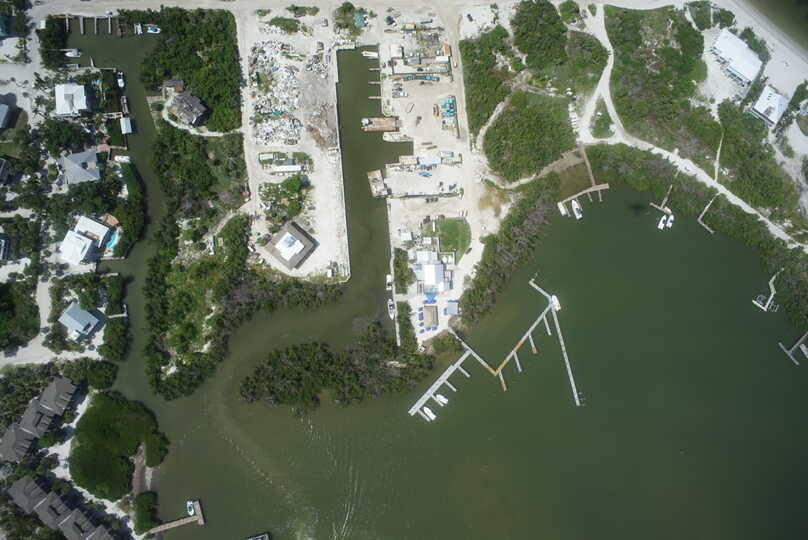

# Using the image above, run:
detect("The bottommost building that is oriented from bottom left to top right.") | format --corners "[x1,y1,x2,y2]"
[0,376,84,462]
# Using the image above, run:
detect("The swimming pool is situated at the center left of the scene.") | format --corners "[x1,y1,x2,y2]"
[105,228,119,250]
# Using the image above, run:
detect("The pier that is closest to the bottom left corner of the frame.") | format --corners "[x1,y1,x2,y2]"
[149,499,205,534]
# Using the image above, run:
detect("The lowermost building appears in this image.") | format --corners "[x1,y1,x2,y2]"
[9,471,129,540]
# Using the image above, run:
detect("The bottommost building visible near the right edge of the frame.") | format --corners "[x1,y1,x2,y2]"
[746,85,788,129]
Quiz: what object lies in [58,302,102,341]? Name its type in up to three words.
house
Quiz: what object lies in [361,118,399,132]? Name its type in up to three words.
ship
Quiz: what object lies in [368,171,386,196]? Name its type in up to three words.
ship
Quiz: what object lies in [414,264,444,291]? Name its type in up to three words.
building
